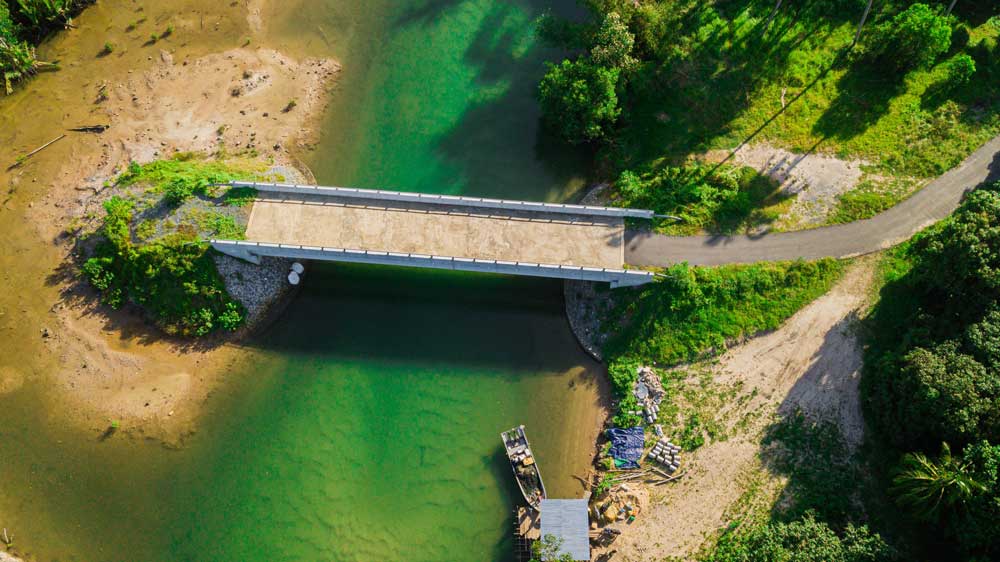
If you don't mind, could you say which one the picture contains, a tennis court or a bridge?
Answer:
bridge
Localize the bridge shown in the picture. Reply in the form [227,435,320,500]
[188,180,680,289]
